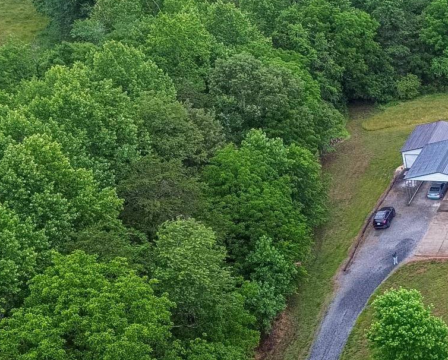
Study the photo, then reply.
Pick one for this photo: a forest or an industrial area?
forest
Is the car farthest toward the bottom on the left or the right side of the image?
right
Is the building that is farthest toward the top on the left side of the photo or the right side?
right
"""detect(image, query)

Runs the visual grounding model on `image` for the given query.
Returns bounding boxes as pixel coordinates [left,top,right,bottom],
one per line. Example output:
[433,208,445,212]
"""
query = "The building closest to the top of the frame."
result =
[398,118,448,169]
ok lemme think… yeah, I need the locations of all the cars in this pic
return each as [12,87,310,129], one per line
[373,203,399,227]
[427,182,448,197]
